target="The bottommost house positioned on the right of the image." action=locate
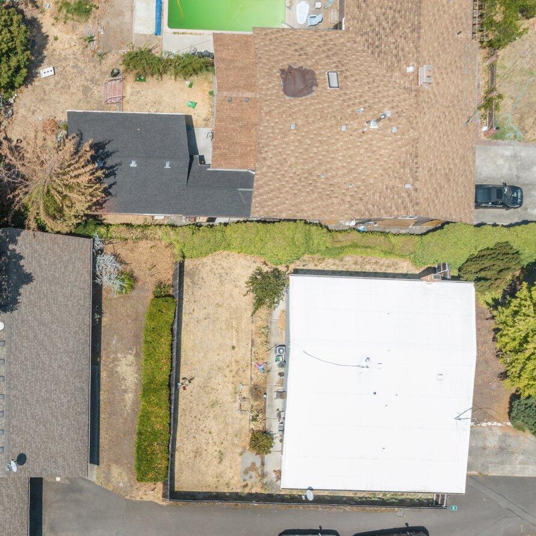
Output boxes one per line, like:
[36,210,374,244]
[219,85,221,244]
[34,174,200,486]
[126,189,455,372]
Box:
[270,260,476,505]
